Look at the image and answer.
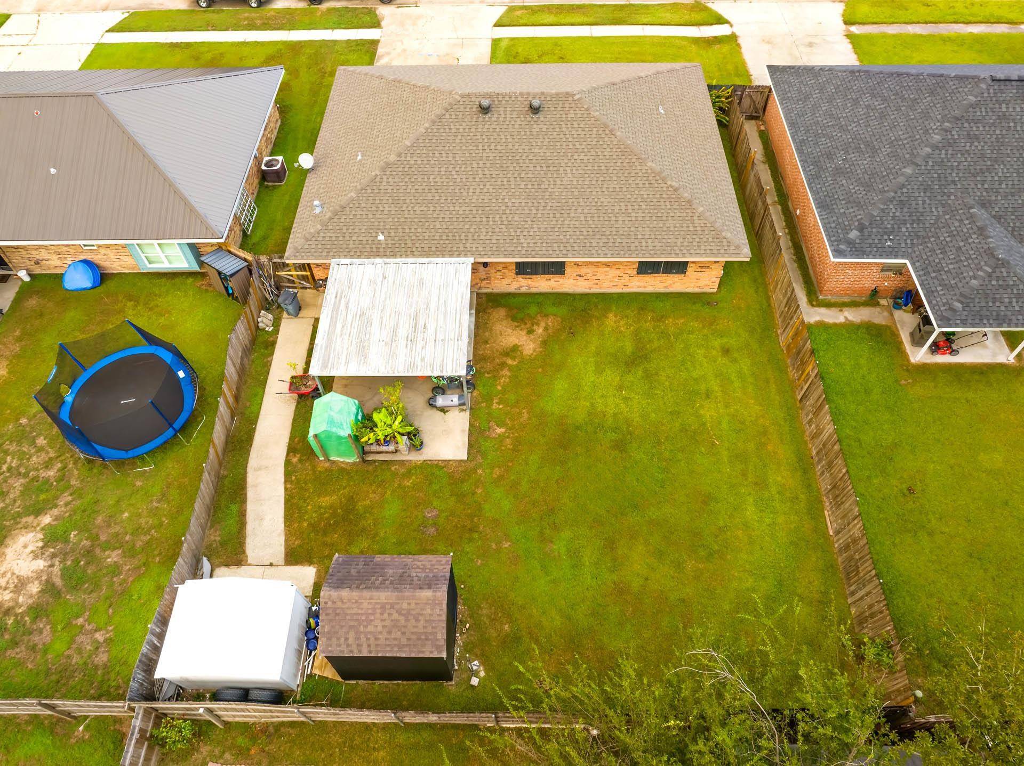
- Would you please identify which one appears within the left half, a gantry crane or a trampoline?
trampoline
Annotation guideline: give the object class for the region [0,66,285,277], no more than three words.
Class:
house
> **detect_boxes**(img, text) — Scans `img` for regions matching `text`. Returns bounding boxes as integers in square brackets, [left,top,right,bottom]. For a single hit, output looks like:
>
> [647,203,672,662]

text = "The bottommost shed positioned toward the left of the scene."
[317,553,460,684]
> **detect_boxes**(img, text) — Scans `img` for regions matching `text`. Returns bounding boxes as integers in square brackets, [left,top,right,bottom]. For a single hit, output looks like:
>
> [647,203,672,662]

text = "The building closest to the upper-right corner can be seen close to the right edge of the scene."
[765,65,1024,362]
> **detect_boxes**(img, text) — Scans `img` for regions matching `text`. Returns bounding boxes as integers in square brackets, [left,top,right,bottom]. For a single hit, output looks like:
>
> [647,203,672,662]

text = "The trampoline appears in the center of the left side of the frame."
[32,319,205,473]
